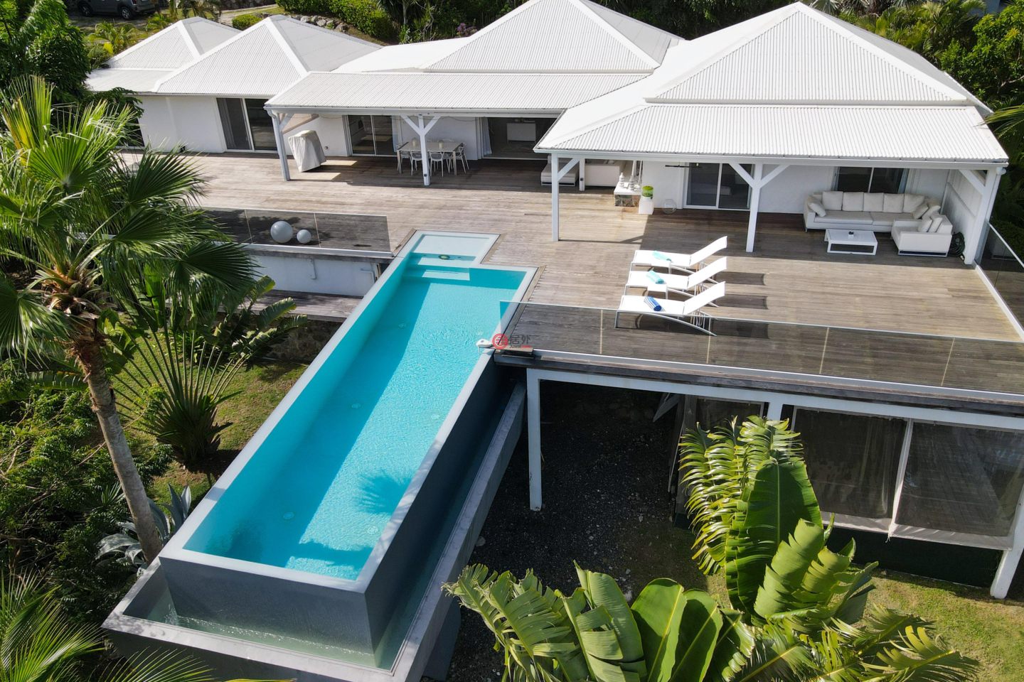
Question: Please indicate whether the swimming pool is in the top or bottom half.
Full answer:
The swimming pool sits in the bottom half of the picture.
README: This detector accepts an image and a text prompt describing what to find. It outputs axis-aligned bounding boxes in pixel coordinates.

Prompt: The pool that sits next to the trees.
[102,231,538,682]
